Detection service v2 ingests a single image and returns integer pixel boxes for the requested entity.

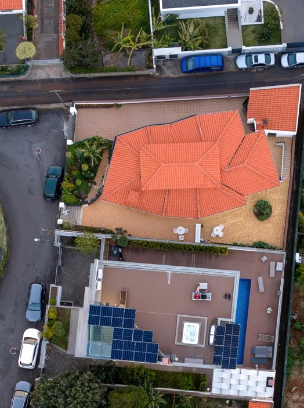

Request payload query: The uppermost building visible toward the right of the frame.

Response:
[160,0,263,51]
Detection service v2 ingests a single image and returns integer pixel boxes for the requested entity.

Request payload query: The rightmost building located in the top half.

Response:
[245,85,301,141]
